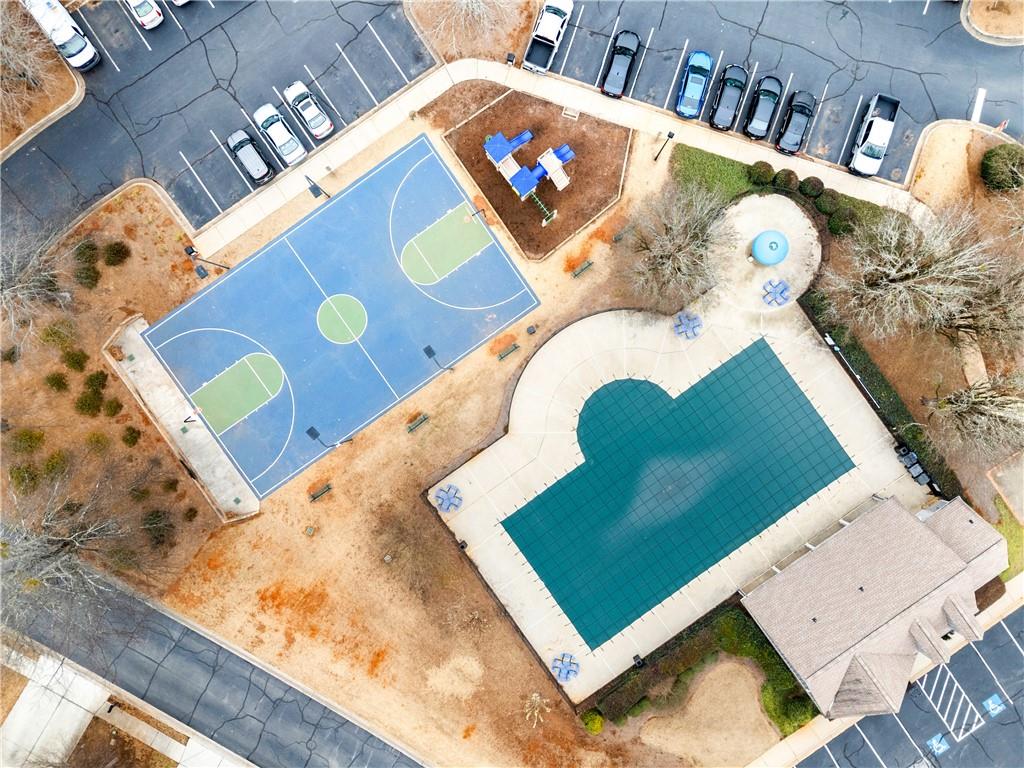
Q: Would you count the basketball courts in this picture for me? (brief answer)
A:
1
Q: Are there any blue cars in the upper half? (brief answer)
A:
Yes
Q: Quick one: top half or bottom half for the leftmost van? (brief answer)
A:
top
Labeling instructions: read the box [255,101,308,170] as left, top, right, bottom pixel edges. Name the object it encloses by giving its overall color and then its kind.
white car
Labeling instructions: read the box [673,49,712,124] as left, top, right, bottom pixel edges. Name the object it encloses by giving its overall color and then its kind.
blue car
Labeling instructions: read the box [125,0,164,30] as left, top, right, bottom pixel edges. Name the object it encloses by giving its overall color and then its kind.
white car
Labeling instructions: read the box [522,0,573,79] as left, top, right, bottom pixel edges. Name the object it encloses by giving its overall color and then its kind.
white truck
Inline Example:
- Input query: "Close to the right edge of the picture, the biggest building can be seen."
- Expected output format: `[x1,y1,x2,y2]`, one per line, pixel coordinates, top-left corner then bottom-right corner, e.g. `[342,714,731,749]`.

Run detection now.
[735,492,1008,720]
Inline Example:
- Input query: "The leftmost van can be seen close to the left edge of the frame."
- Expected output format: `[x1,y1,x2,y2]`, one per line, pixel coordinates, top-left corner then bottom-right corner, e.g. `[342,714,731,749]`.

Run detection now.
[26,0,105,76]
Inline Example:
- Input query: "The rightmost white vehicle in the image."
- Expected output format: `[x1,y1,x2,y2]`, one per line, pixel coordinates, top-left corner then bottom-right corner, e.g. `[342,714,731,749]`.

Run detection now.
[850,92,903,180]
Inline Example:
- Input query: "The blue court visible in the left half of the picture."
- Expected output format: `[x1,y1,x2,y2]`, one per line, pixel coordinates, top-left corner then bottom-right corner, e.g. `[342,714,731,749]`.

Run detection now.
[139,132,545,505]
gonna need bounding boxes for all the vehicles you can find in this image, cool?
[773,91,816,158]
[285,80,335,144]
[255,101,308,170]
[227,128,276,189]
[599,30,641,103]
[125,0,164,30]
[850,92,903,180]
[522,0,573,79]
[705,63,748,135]
[741,76,781,144]
[673,49,712,124]
[26,0,105,76]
